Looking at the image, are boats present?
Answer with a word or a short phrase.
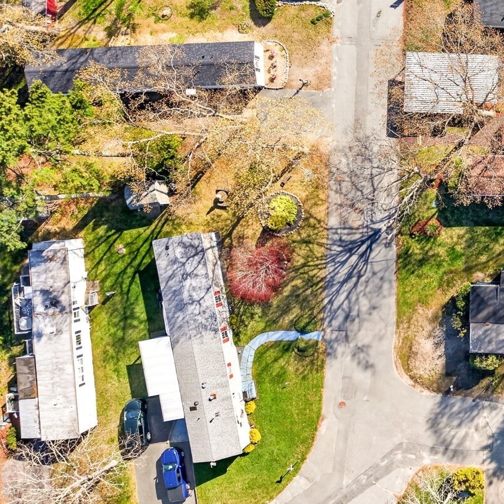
No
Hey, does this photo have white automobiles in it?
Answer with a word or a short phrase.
No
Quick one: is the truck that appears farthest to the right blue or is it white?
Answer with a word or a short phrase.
blue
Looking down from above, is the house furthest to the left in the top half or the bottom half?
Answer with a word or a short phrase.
bottom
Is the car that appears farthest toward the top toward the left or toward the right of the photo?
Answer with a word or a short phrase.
left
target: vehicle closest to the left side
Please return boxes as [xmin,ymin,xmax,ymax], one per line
[121,397,150,445]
